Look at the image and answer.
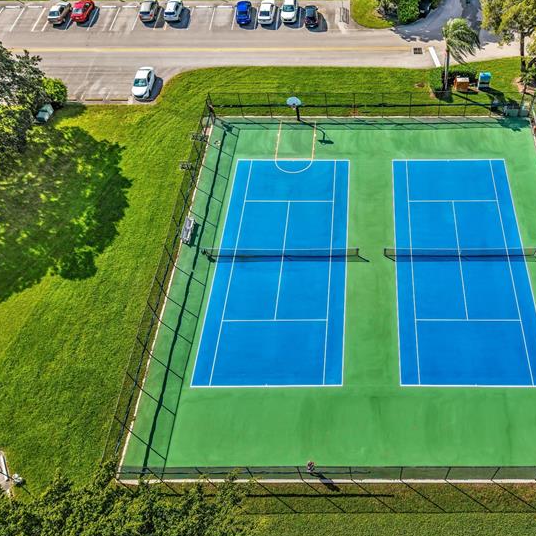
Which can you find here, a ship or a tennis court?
tennis court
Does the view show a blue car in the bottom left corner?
No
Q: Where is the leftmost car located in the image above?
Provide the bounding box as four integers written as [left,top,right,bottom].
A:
[47,0,75,23]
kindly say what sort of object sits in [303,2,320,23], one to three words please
car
